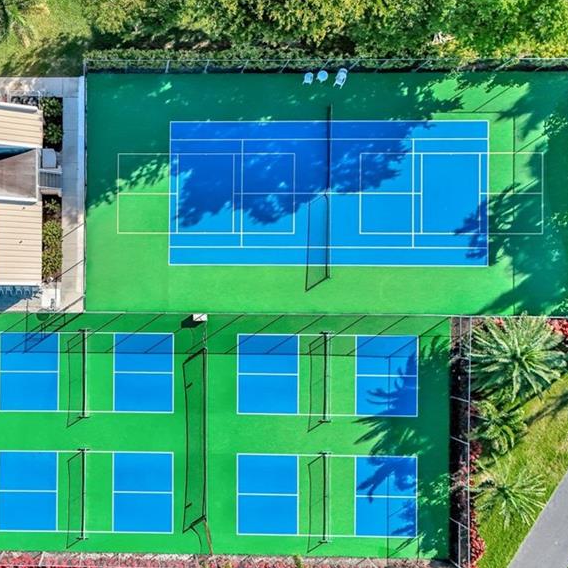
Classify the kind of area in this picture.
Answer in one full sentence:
This looks like a sports ground.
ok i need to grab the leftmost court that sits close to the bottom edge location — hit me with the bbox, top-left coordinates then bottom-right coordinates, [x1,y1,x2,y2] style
[0,432,202,556]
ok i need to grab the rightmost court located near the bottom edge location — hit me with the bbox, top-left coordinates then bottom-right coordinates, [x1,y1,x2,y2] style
[202,432,452,561]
